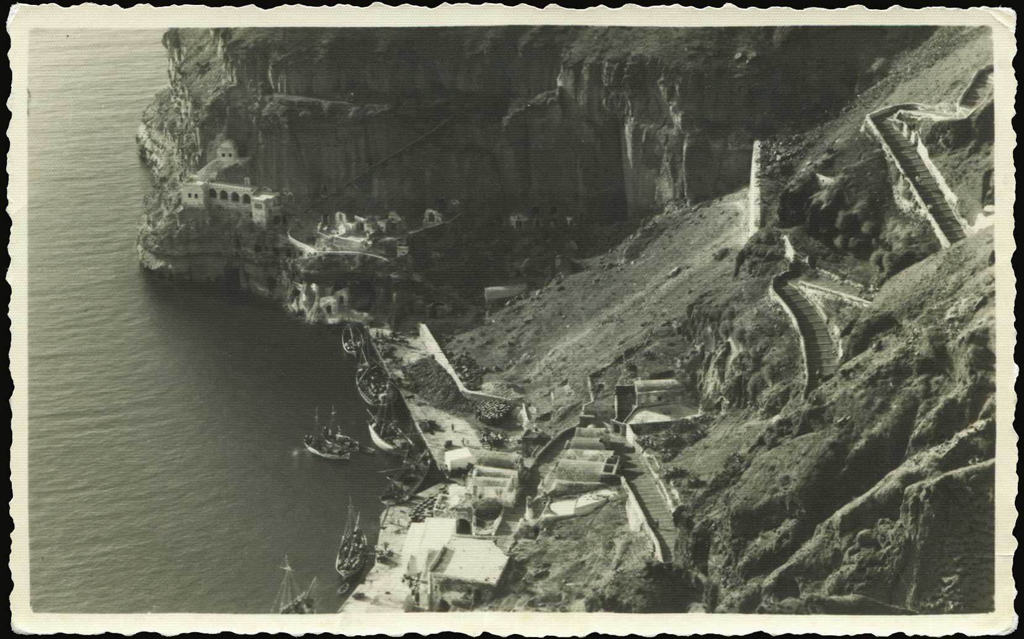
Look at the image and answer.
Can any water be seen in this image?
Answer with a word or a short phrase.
Yes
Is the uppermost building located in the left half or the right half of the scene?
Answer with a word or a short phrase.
left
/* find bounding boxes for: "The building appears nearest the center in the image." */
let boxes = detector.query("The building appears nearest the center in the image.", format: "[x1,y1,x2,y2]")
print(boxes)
[486,283,527,312]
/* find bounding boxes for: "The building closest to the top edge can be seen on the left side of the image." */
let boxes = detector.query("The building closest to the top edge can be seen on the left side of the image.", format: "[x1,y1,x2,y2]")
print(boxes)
[218,139,242,172]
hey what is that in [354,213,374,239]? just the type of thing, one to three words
house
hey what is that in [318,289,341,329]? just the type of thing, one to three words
house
